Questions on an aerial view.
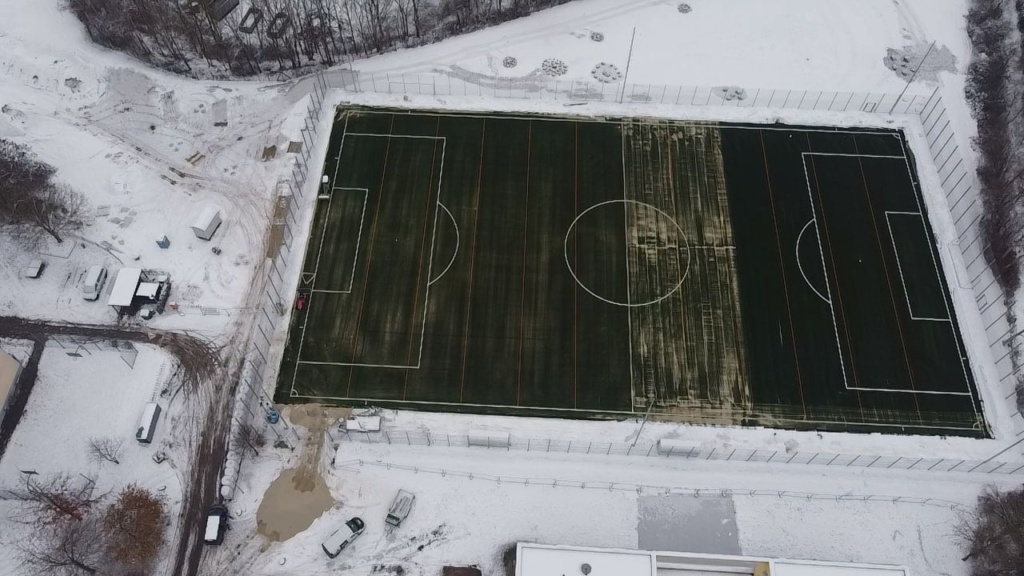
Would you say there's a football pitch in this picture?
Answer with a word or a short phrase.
Yes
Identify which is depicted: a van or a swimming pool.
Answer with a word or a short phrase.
van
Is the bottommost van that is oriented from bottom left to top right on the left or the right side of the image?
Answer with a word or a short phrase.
left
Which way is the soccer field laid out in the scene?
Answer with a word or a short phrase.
from left to right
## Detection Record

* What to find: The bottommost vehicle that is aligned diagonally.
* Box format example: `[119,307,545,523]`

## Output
[320,516,365,561]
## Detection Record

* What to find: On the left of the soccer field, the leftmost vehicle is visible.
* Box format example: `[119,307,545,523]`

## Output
[84,266,107,301]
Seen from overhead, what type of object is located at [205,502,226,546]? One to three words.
vehicle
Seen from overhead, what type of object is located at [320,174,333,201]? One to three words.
vehicle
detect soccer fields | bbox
[273,106,989,438]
